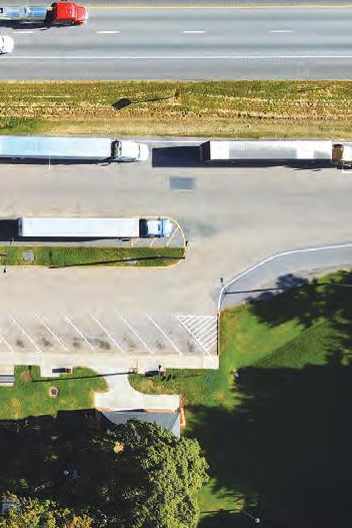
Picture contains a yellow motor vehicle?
No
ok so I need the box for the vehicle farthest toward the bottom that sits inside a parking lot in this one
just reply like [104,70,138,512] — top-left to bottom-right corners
[17,217,173,239]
